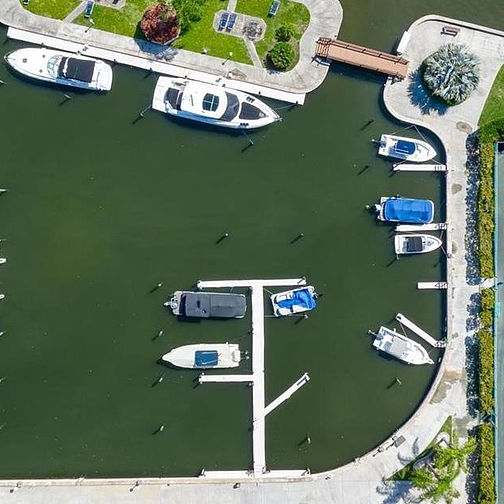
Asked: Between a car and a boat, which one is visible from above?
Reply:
boat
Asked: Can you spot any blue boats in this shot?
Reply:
Yes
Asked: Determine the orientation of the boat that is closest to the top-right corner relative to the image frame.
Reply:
from left to right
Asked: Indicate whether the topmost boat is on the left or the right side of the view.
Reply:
left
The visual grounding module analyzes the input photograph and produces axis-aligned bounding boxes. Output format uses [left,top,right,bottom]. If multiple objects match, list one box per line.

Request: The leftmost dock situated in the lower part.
[198,277,310,476]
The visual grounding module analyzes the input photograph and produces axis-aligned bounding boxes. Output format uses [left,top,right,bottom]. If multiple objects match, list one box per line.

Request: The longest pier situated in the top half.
[7,27,305,103]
